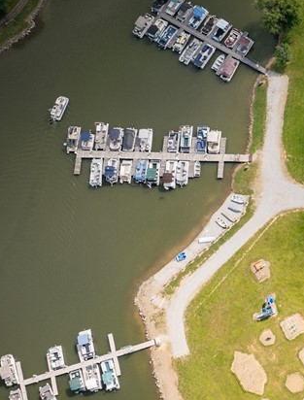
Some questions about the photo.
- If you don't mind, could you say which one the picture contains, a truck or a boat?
boat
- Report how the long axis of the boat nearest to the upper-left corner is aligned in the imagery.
on a diagonal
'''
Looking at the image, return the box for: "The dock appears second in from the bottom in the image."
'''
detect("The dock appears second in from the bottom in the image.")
[74,134,252,178]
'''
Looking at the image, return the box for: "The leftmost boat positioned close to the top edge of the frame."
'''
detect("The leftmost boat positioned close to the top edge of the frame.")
[132,13,155,40]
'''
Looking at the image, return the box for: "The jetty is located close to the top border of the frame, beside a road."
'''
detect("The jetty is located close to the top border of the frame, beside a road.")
[145,0,271,77]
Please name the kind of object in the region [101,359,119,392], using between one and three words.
boat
